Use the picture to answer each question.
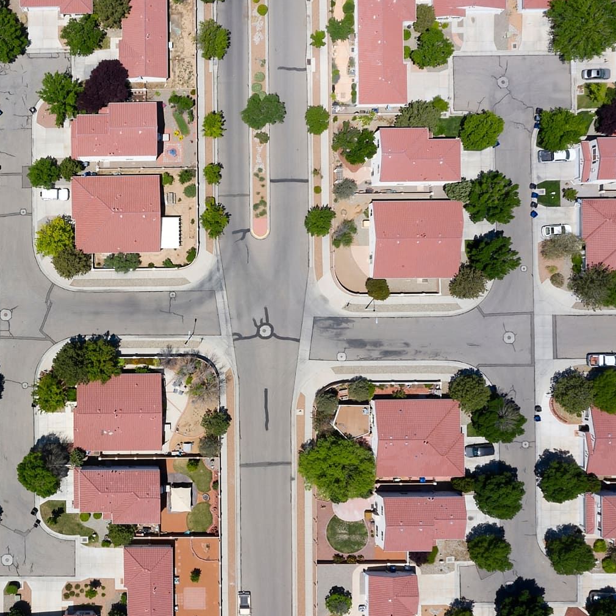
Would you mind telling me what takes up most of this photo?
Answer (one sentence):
Most of the picture is covered by paved ground.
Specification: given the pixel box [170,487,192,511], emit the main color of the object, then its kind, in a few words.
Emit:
white gazebo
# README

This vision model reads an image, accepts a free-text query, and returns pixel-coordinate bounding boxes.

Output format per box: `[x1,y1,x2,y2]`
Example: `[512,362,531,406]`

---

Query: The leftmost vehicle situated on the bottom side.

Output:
[238,590,253,616]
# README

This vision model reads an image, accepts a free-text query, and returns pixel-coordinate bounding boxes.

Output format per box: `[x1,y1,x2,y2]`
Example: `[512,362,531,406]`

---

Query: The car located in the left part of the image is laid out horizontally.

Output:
[41,188,69,201]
